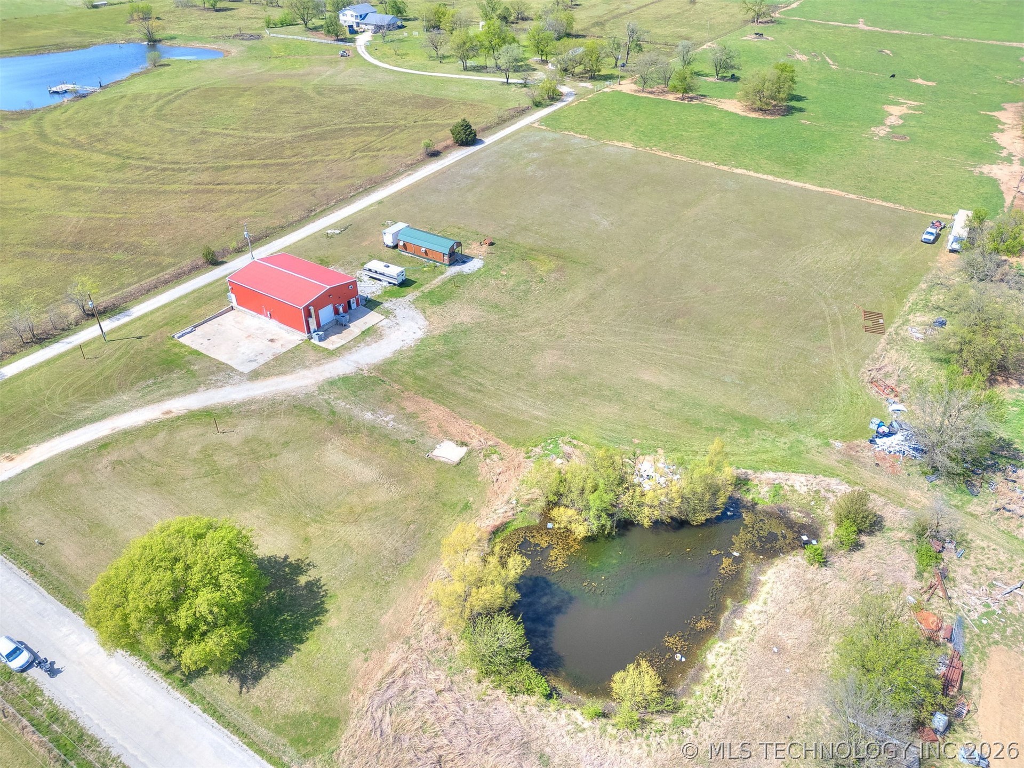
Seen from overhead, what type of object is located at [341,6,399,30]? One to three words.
house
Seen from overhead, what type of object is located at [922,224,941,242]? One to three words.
vehicle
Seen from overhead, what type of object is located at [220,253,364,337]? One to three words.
barn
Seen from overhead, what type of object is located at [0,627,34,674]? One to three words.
car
